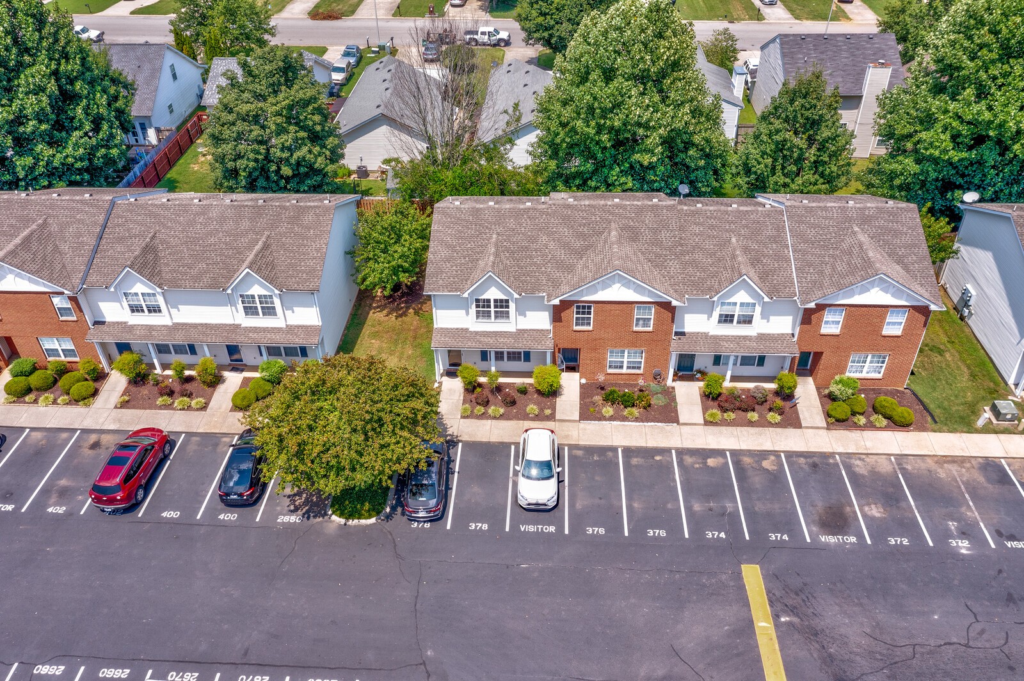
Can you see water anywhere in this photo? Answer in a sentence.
No, no water is visible.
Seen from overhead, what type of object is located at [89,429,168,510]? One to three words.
car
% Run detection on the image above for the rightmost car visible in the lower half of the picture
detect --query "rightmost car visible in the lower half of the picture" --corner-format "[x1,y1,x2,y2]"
[516,428,562,510]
